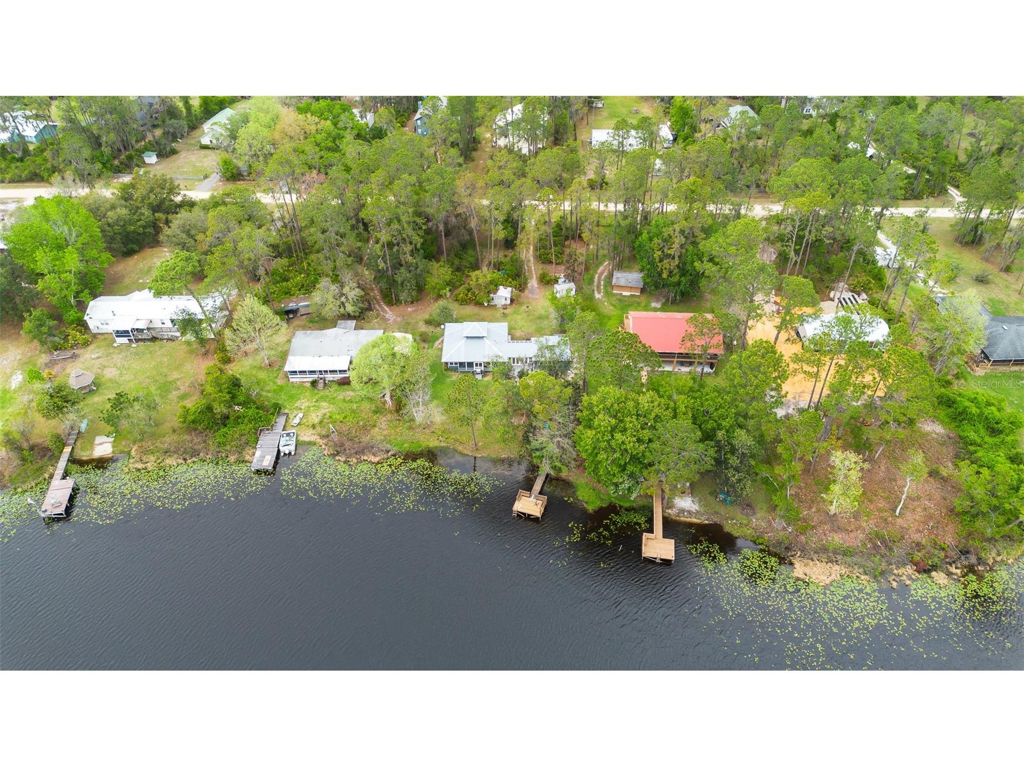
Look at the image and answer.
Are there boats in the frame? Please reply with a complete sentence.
Yes, looking at the shot, I can spot a boat.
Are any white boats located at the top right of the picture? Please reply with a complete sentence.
No, I can find no white boat at the top right of the picture.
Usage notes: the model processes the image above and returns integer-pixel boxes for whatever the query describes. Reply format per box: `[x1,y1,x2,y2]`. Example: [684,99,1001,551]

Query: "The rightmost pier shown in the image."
[642,481,675,566]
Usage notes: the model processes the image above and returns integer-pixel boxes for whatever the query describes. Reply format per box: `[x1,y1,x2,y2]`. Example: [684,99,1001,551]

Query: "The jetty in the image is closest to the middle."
[512,472,548,523]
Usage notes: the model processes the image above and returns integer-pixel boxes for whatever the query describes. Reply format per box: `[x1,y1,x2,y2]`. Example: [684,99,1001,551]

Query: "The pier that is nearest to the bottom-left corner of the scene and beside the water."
[41,432,79,521]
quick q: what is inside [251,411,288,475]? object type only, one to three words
pier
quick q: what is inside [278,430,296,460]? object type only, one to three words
boat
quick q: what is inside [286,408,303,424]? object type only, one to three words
boat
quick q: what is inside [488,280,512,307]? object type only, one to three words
shed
